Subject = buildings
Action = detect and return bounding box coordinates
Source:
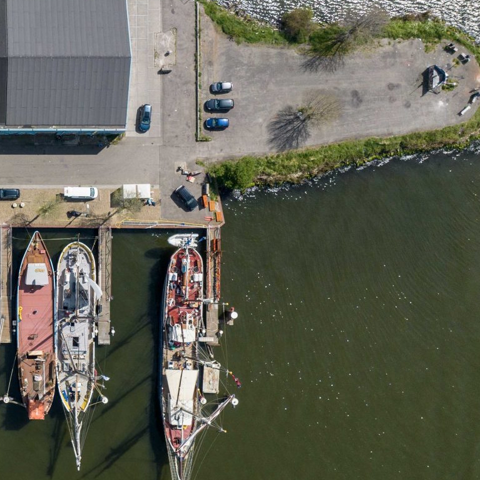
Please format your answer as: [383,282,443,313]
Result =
[421,65,462,100]
[0,0,134,135]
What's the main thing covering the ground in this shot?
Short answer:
water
